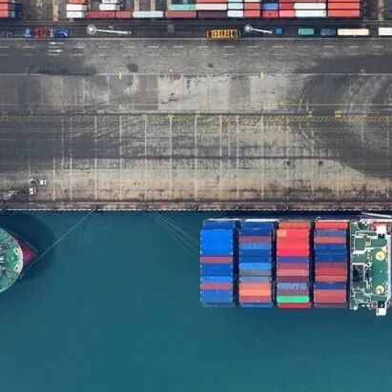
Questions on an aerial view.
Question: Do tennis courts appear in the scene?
No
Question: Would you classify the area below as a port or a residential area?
port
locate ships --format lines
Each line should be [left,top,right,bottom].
[0,227,42,291]
[205,214,392,317]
